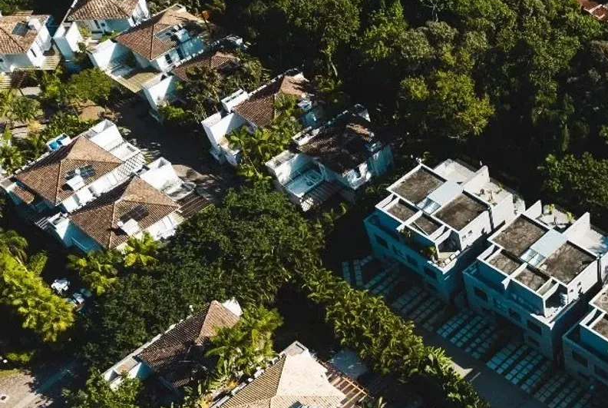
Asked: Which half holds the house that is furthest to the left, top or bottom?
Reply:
top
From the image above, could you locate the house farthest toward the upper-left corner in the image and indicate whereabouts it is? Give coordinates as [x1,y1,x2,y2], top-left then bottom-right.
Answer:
[0,10,67,103]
